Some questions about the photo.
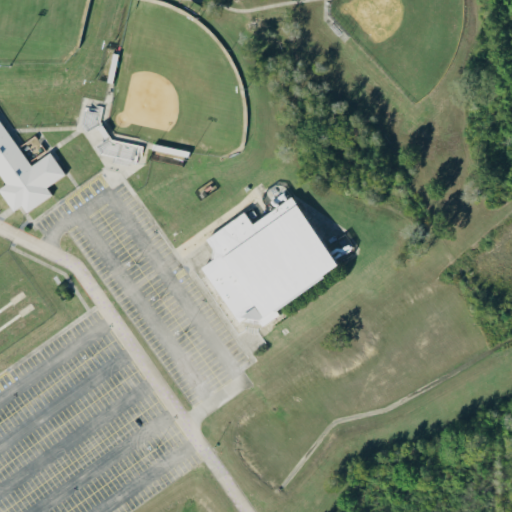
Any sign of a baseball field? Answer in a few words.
Yes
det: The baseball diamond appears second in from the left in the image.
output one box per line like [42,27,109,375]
[110,0,248,161]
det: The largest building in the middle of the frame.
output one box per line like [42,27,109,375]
[202,196,342,326]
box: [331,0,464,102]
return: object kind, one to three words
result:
baseball field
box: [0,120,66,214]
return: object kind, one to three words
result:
building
